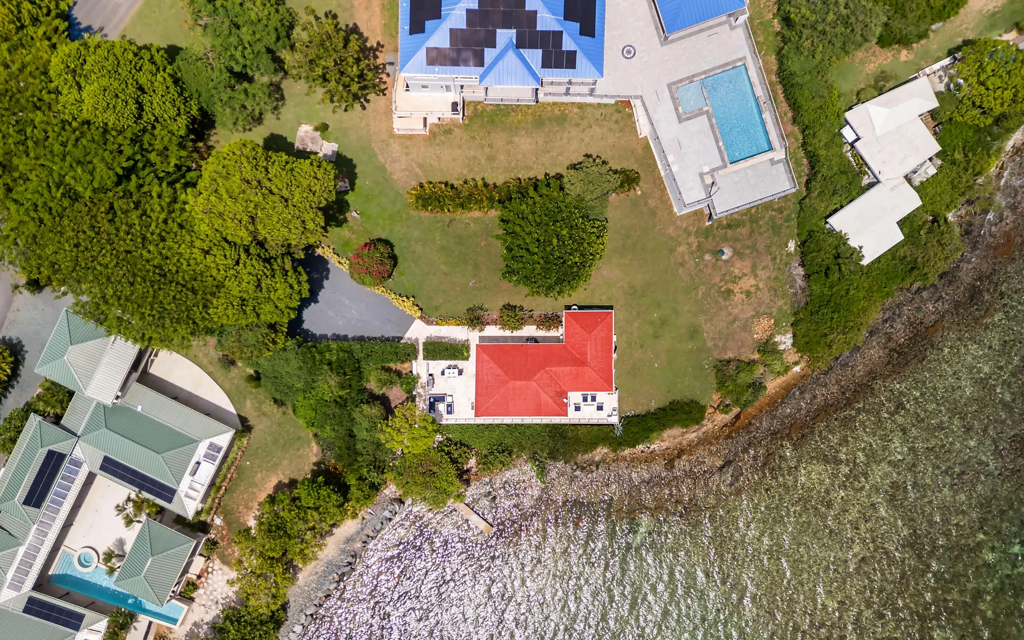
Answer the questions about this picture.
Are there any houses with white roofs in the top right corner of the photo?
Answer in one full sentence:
Yes, the scene does show a house with a white roof in the top right corner of the photo.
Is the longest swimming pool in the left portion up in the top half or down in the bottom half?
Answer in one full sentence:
The longest swimming pool in the left portion sits in the bottom half of the picture.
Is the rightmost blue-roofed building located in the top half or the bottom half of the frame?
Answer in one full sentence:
The rightmost blue-roofed building sits in the top half of the picture.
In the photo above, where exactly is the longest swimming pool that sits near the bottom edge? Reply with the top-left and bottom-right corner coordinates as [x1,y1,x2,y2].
[43,545,189,630]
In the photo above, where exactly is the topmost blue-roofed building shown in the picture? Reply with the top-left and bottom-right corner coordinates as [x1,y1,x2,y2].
[653,0,748,44]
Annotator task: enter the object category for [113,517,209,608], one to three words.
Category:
building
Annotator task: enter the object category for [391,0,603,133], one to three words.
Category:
house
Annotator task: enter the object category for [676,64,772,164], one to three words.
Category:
swimming pool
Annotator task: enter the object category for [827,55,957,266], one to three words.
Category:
house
